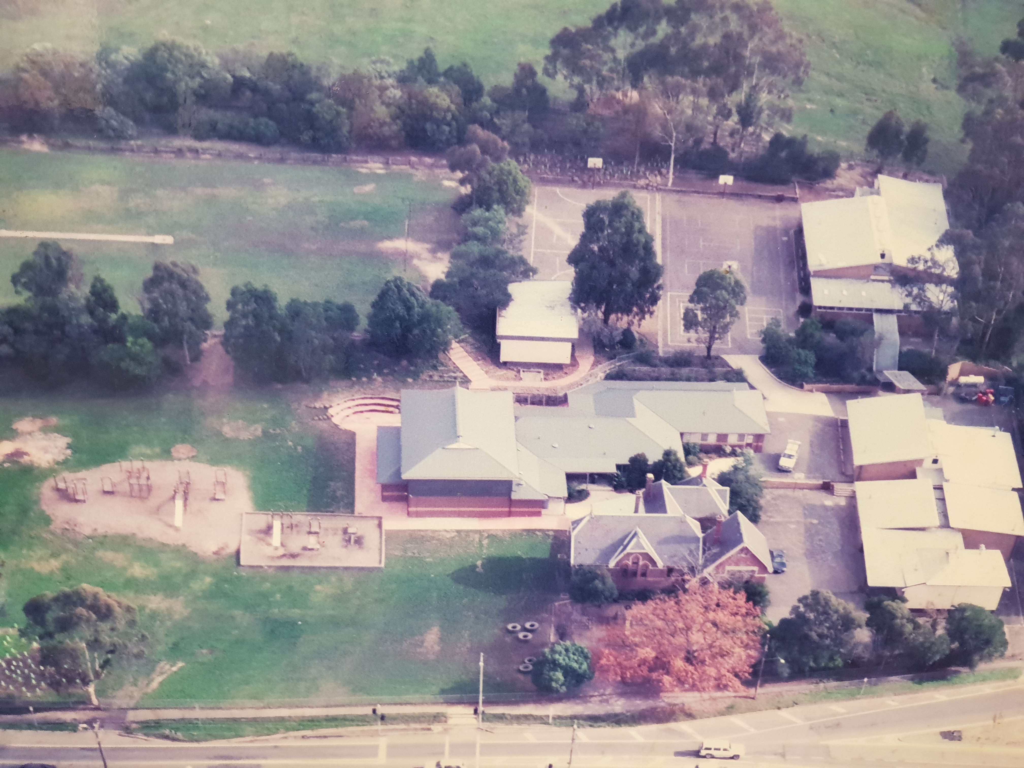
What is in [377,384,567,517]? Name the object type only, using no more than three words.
building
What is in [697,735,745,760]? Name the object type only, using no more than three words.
car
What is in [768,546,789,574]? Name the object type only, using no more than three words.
car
